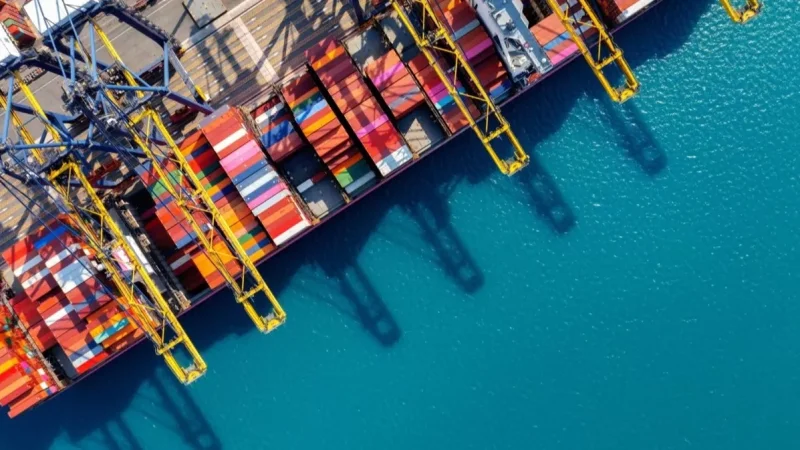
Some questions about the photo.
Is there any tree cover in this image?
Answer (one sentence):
No, no tree cover is visible.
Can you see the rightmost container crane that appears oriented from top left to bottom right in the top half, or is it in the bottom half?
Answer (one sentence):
You can find the rightmost container crane that appears oriented from top left to bottom right in the top half.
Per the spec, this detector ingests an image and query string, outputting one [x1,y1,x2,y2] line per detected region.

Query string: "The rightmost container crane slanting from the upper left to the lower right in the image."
[545,0,643,106]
